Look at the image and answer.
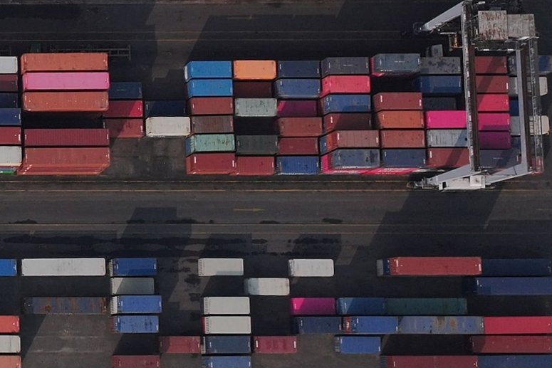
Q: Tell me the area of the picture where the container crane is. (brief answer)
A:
top right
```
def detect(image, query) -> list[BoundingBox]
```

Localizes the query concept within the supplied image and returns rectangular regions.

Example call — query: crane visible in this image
[398,0,543,193]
